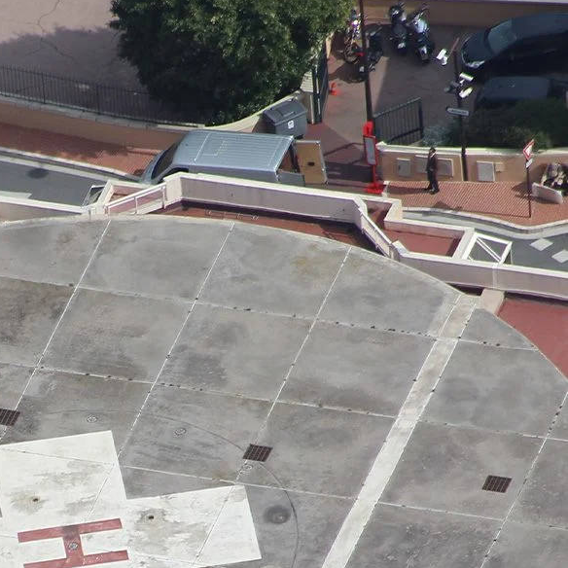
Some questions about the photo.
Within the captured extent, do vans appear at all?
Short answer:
Yes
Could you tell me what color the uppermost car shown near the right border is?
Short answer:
black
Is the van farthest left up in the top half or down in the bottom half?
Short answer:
top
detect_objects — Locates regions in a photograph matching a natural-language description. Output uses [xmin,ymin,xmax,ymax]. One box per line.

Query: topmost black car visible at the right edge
[459,4,568,86]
